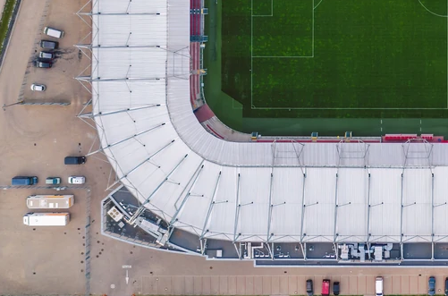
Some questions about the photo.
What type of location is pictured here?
sports ground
